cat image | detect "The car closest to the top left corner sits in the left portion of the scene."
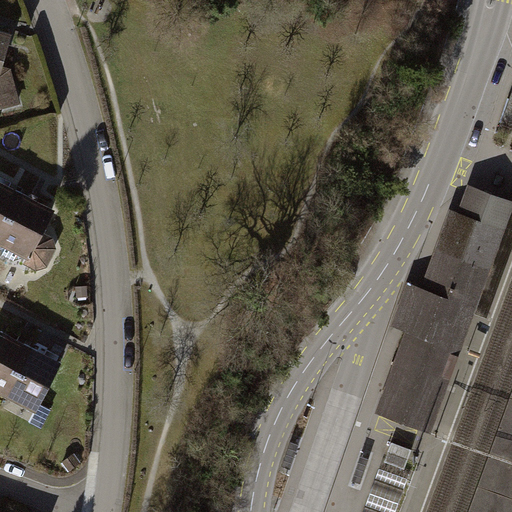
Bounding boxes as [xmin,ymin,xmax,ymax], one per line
[96,126,109,149]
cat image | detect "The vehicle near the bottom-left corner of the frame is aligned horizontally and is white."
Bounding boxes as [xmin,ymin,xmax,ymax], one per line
[4,464,26,477]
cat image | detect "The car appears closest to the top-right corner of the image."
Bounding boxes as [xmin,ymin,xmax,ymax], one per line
[491,62,505,84]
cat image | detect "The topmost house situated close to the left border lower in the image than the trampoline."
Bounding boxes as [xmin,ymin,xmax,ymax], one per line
[0,184,55,271]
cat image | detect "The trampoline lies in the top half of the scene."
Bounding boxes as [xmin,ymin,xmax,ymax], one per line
[2,132,20,150]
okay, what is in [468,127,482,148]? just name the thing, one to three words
vehicle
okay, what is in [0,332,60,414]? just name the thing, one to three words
house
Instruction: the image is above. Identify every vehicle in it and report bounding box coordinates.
[124,316,134,340]
[124,344,134,368]
[491,62,505,84]
[468,127,482,148]
[96,126,109,149]
[4,464,26,477]
[102,156,115,181]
